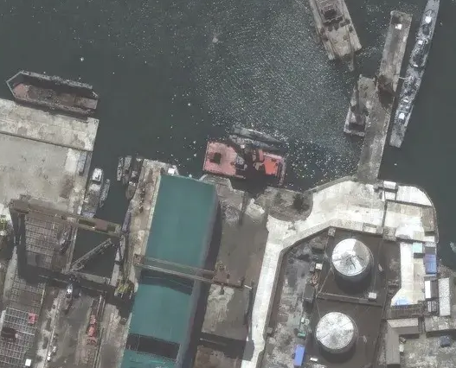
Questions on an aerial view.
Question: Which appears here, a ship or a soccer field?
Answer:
ship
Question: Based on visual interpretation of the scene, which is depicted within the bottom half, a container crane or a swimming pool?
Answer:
container crane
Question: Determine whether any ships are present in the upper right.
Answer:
Yes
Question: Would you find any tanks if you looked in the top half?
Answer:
No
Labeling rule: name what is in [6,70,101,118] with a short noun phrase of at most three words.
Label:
ship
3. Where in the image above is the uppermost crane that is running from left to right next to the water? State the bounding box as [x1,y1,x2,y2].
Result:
[7,196,131,268]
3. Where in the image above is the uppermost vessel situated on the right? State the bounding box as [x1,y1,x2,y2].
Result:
[309,0,362,71]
